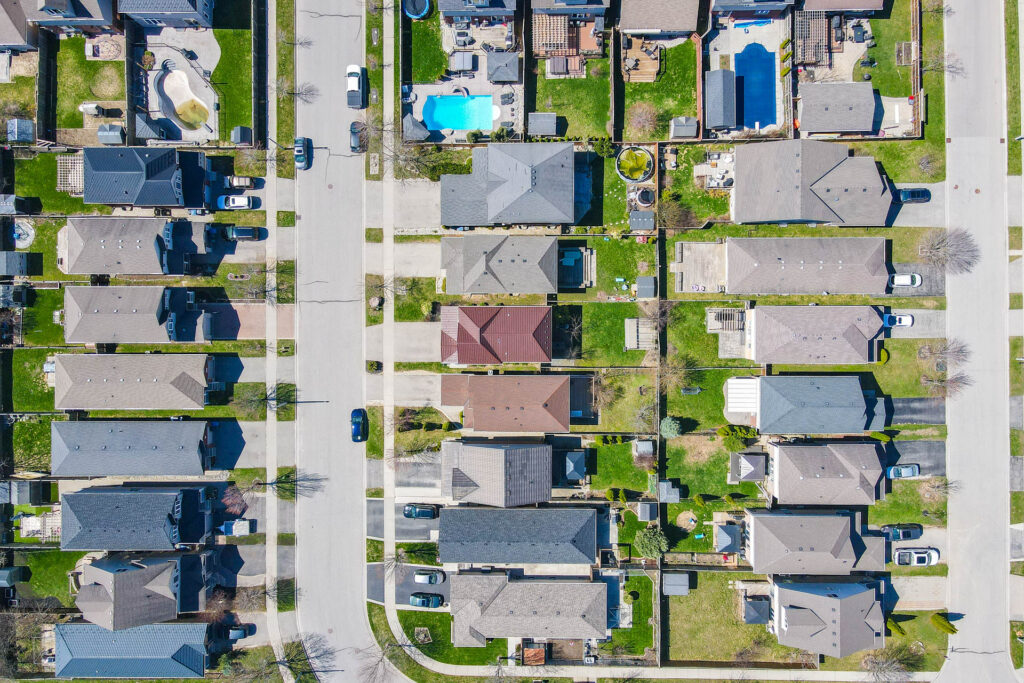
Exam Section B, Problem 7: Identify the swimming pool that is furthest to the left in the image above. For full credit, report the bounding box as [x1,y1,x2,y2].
[152,57,210,131]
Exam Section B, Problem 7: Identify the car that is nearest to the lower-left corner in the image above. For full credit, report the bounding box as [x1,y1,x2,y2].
[227,624,252,642]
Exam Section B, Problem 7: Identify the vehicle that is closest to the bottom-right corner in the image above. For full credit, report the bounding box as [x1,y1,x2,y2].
[891,547,939,567]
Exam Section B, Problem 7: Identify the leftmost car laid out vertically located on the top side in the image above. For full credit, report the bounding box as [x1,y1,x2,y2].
[294,137,309,170]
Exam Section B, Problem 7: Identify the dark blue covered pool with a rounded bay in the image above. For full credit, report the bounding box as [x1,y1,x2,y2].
[735,41,776,131]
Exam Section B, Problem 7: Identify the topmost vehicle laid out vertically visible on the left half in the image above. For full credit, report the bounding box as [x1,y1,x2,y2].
[346,65,364,109]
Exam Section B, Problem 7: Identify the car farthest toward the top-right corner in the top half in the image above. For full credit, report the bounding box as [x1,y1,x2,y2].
[896,187,930,204]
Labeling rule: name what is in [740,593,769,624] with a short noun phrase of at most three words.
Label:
gazebo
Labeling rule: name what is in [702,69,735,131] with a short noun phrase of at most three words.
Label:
building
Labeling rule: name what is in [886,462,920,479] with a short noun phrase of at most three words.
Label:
car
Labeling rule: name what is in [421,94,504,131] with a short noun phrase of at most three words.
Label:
swimming pool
